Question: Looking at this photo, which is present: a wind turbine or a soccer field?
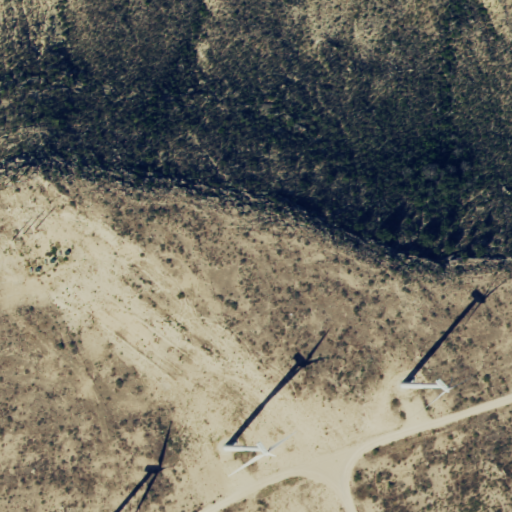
wind turbine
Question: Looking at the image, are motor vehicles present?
No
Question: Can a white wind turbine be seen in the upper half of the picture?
No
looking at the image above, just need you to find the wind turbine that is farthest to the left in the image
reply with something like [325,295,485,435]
[220,434,292,470]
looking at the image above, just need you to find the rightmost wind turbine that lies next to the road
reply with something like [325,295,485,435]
[398,358,467,408]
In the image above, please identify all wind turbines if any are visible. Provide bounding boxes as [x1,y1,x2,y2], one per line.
[398,358,467,408]
[220,434,292,470]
